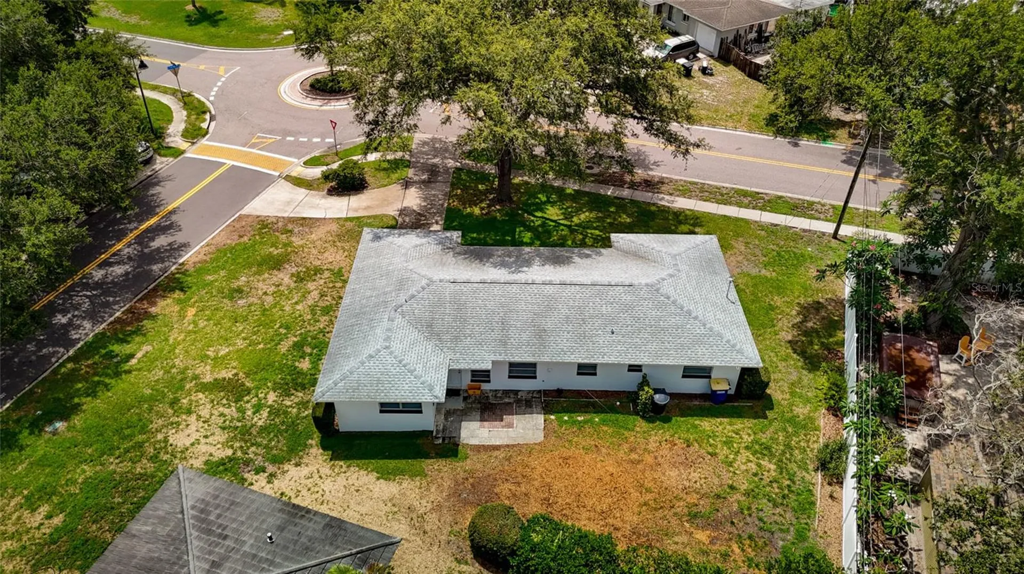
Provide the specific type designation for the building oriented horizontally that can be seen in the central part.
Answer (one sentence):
Looking closely, the building oriented horizontally that can be seen in the central part is a home.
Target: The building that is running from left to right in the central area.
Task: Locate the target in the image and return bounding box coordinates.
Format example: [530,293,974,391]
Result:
[312,228,763,431]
